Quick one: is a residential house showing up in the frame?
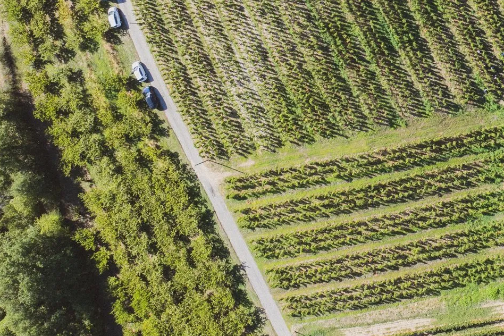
No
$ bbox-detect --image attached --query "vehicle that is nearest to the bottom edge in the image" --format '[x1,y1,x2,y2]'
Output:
[142,85,159,110]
